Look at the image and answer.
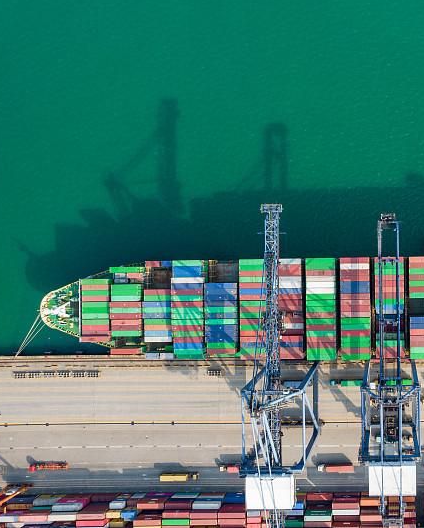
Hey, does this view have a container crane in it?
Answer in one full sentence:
Yes, a container crane is visible in the scene.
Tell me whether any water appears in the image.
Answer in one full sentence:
Yes, there's water in this view.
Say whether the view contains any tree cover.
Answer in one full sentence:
No, the scene doesn't show any tree cover.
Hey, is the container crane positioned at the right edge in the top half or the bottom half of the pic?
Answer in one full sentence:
The container crane positioned at the right edge is in the bottom half of the image.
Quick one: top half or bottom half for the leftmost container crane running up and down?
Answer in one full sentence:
Seen from above, the leftmost container crane running up and down lies in the bottom half of the view.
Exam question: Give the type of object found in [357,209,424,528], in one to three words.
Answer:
container crane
